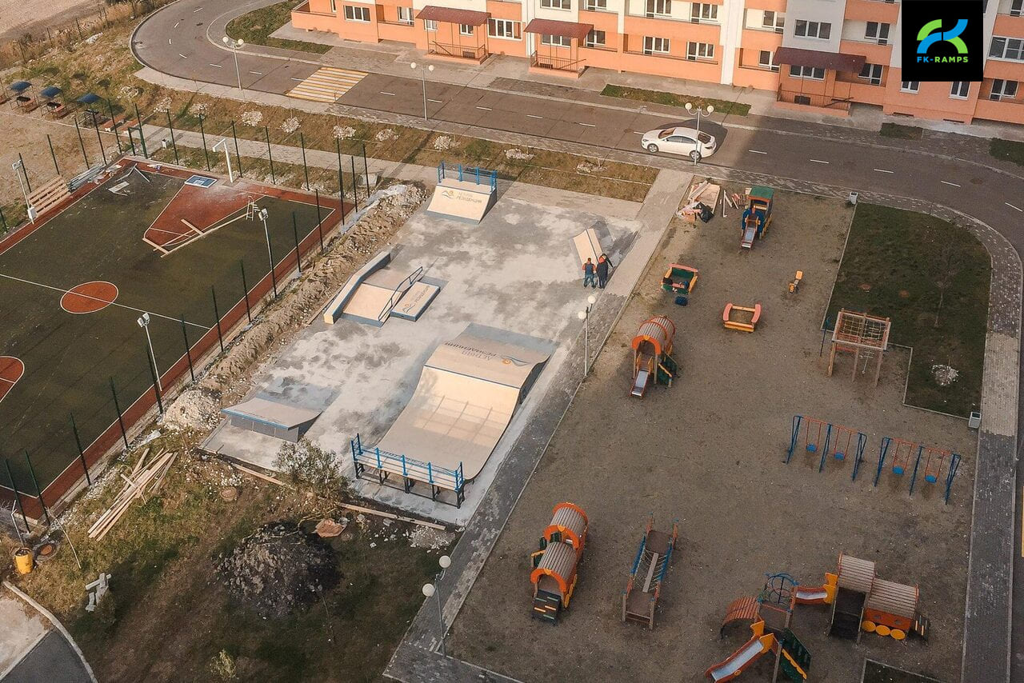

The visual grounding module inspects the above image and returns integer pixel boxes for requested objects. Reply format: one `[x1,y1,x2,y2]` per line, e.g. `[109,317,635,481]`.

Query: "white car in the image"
[639,127,716,161]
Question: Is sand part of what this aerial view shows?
Yes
